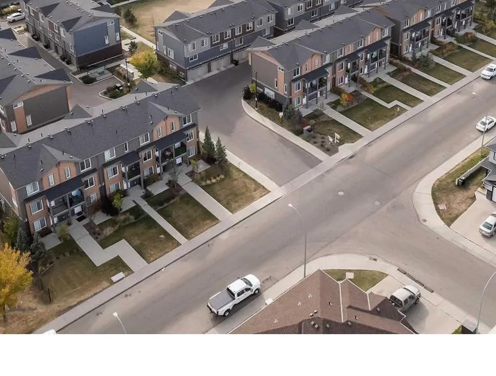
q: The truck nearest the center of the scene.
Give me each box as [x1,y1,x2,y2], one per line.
[207,271,264,316]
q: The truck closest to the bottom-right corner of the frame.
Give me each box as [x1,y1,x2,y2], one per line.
[385,283,421,308]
